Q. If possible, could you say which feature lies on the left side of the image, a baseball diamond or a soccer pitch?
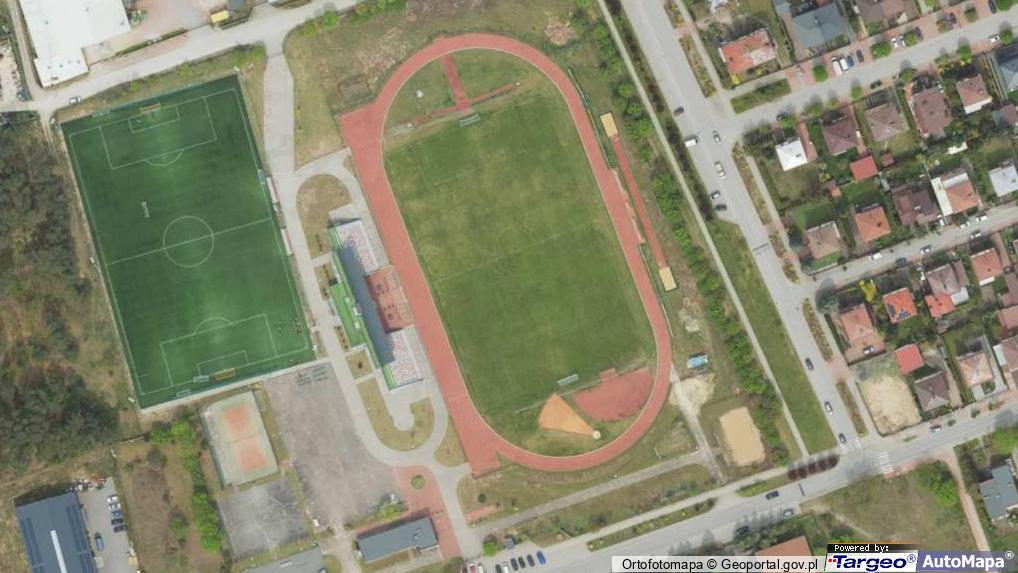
soccer pitch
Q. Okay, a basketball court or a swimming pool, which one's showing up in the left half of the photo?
basketball court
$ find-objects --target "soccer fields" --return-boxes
[384,87,650,412]
[61,77,328,414]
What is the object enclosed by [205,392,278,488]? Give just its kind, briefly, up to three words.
tennis court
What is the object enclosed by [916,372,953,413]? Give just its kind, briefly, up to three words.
house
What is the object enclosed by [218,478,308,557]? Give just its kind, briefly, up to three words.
basketball court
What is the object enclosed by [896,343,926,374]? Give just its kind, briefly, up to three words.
building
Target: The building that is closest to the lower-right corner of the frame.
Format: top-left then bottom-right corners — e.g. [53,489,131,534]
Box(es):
[980,466,1018,517]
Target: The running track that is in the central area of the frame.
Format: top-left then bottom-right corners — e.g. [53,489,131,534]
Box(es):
[342,34,669,474]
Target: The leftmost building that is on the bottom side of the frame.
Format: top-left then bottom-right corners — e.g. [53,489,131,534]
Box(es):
[12,492,96,573]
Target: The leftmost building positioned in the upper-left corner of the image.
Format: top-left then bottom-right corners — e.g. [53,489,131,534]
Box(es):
[25,0,134,86]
